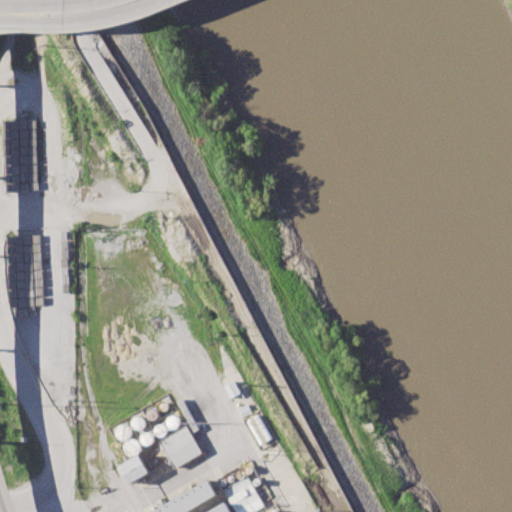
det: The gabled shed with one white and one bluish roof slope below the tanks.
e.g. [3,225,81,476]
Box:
[118,456,148,483]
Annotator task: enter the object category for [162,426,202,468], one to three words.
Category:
building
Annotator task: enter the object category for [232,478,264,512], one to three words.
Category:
building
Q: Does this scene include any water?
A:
Yes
